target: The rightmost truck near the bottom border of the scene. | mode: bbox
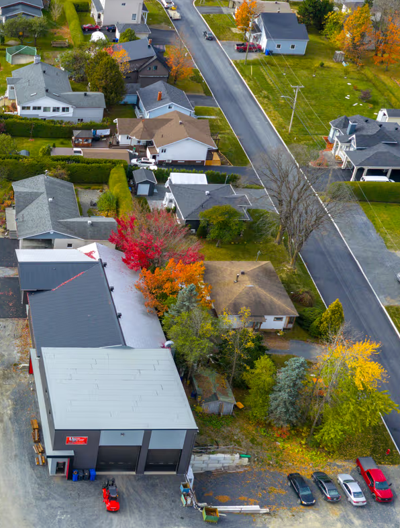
[356,455,399,502]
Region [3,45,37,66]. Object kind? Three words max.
tent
